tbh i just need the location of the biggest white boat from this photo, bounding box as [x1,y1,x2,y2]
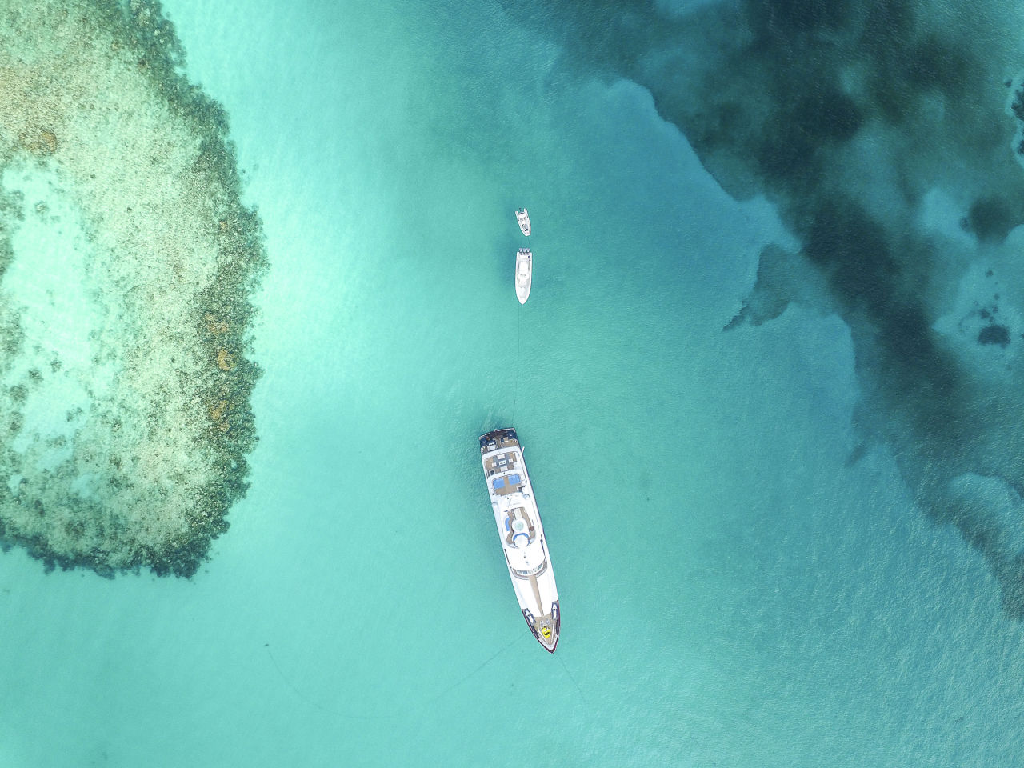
[479,428,559,654]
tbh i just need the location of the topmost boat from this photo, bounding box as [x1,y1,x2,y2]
[515,207,531,235]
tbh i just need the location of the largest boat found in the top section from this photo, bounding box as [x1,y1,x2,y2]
[515,247,532,302]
